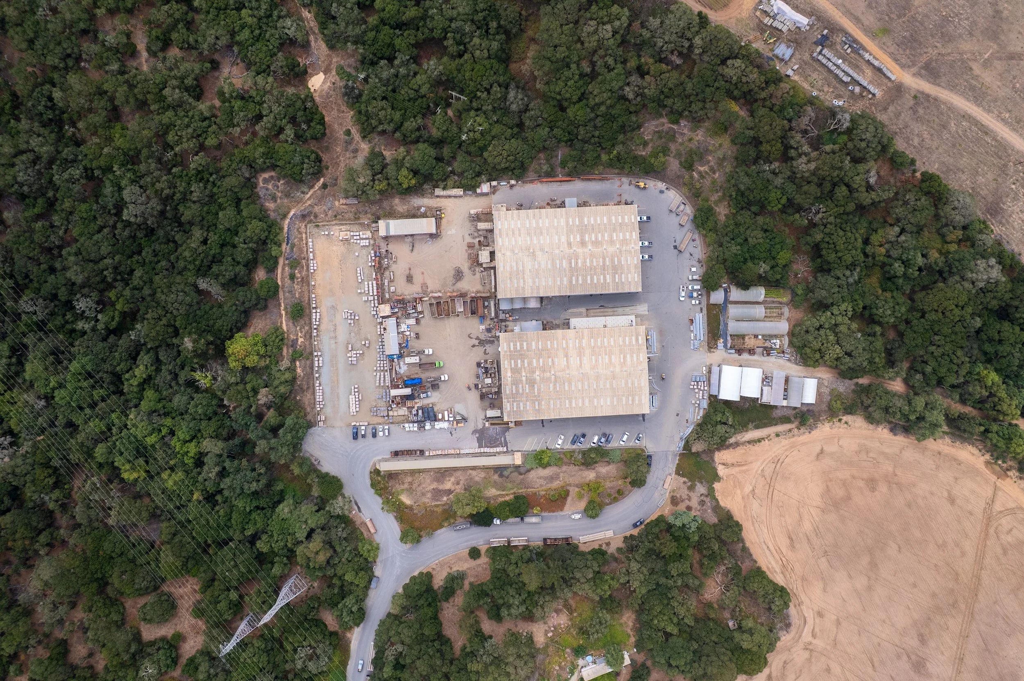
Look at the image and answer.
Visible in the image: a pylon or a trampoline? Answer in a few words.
pylon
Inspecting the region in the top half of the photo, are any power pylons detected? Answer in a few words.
No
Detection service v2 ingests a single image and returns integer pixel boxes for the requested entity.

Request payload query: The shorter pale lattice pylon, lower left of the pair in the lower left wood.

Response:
[219,621,260,659]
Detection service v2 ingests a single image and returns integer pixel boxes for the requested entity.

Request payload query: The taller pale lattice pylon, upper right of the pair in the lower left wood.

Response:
[257,571,313,629]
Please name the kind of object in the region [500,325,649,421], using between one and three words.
building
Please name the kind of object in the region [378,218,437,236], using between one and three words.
shed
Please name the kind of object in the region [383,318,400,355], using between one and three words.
building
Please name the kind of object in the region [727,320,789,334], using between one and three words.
greenhouse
